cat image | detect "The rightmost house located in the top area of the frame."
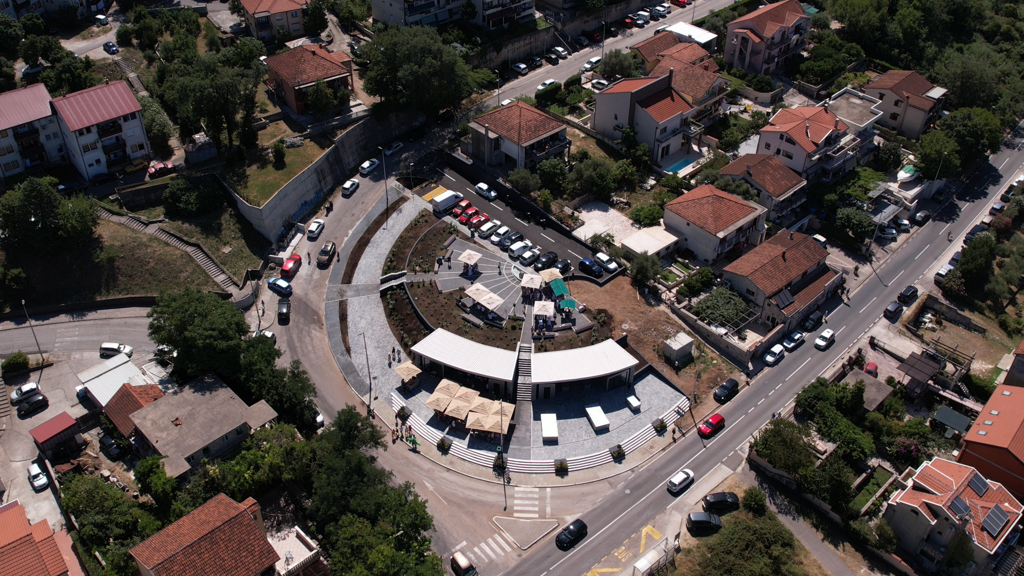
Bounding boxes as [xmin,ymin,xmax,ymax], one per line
[865,64,948,135]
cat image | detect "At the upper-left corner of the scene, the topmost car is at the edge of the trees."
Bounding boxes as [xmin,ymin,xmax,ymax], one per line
[87,12,114,27]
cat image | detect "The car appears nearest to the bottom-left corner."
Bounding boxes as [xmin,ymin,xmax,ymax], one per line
[25,461,50,492]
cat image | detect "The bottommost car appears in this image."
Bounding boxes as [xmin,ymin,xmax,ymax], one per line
[447,545,478,576]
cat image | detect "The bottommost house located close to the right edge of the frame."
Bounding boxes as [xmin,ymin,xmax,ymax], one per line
[880,453,1024,576]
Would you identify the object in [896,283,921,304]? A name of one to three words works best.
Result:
car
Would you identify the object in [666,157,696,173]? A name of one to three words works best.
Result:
swimming pool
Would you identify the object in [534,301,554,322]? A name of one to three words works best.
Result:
umbrella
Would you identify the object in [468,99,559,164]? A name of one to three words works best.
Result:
house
